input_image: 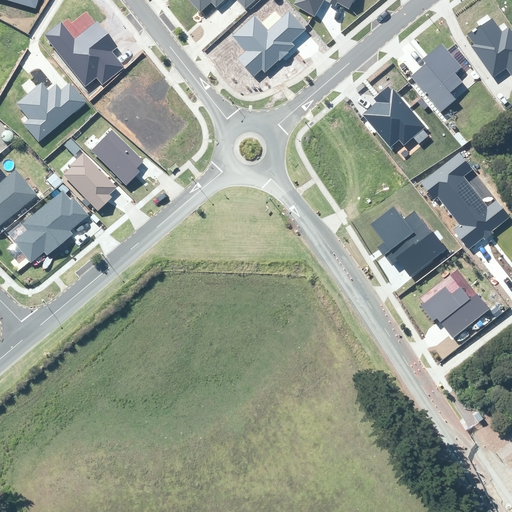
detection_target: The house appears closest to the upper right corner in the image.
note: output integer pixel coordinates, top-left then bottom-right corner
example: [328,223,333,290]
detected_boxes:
[468,18,512,76]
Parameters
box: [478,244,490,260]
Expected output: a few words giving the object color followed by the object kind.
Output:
blue vehicle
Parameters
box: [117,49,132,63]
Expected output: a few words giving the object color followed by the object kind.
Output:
white car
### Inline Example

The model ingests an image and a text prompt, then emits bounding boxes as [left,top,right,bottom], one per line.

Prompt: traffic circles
[216,114,284,183]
